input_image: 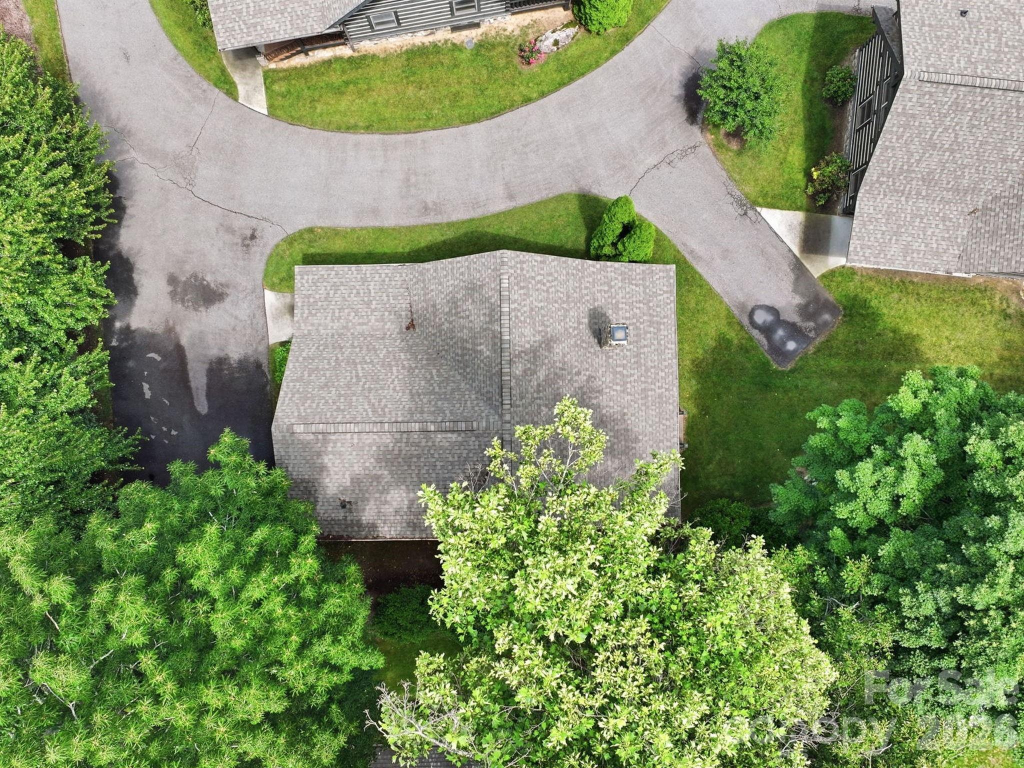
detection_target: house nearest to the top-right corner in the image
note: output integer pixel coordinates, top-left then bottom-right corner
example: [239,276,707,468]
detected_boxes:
[836,0,1024,285]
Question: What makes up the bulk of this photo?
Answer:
trees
